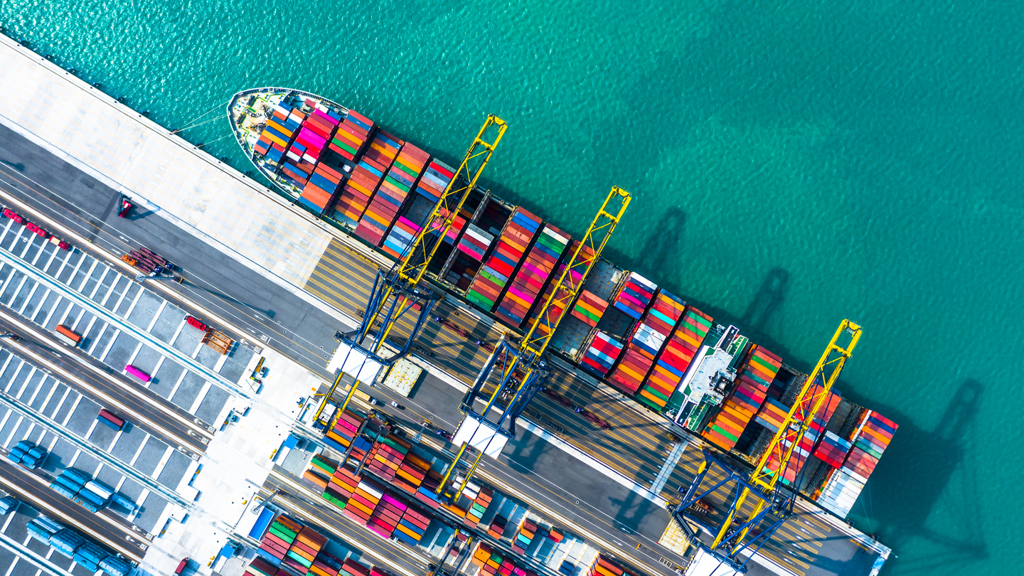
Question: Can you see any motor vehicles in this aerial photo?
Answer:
Yes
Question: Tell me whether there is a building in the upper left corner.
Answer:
No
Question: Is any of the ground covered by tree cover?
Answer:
No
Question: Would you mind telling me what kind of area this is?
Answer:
port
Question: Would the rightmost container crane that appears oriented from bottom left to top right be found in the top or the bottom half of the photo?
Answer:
bottom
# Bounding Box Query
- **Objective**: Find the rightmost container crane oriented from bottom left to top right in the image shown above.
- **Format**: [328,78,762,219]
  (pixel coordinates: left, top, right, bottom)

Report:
[661,320,862,576]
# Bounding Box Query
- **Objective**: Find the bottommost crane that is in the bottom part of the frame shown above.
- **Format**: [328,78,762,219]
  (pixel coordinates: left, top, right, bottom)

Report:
[428,518,475,576]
